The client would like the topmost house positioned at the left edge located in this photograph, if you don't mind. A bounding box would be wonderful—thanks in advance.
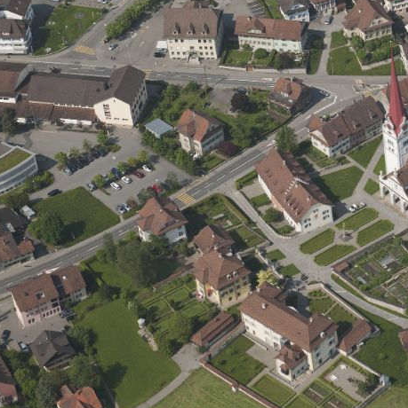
[0,0,42,32]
